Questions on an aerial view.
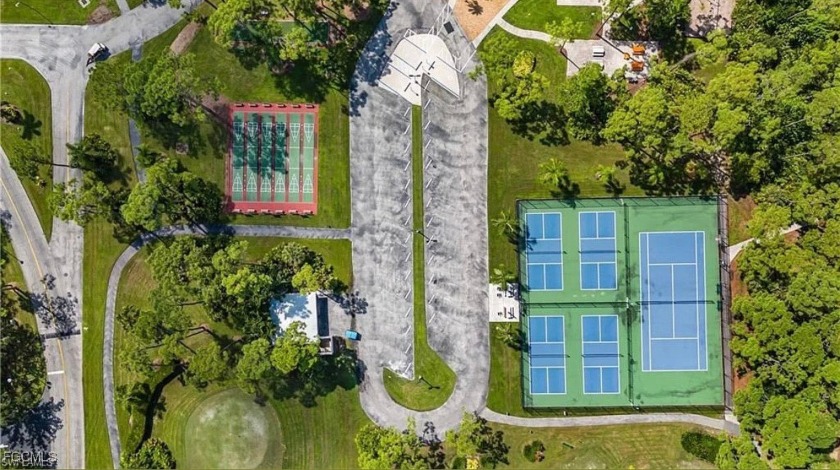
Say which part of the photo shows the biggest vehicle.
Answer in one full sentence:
The biggest vehicle appears toward the top left of the photo.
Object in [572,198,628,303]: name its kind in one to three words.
sports court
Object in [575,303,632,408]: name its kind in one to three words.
sports court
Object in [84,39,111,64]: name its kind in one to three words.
vehicle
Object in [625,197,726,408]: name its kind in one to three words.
tennis court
